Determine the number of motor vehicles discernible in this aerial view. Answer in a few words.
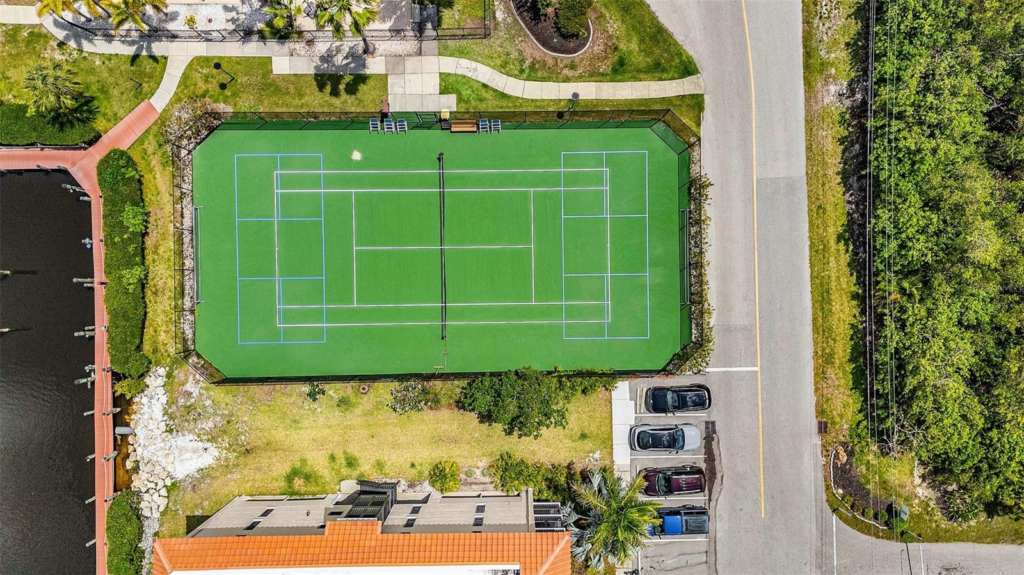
4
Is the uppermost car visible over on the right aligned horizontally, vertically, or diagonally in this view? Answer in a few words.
horizontally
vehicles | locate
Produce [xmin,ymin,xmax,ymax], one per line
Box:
[638,507,710,541]
[633,426,701,458]
[646,386,714,418]
[639,469,708,503]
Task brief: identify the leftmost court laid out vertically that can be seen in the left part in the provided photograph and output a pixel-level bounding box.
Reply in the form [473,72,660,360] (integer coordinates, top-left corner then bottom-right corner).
[235,153,325,344]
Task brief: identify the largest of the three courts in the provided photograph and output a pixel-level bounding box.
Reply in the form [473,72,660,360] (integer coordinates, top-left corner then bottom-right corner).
[191,120,693,378]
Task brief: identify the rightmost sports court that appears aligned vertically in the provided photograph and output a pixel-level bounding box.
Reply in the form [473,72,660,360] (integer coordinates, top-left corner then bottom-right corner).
[561,151,649,339]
